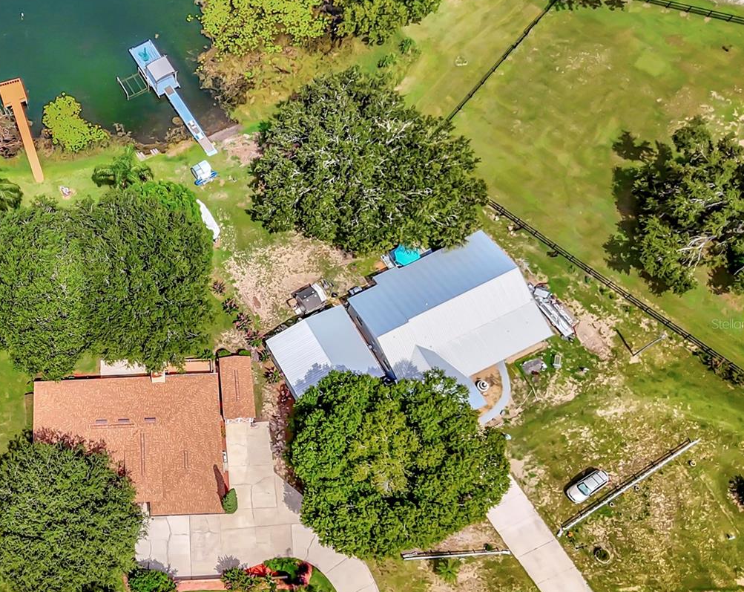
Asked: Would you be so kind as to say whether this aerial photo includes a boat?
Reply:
Yes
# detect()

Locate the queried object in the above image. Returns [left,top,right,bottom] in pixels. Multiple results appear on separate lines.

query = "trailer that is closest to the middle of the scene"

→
[290,283,327,317]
